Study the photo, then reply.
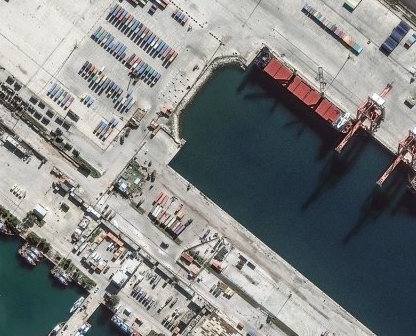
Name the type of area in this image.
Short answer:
port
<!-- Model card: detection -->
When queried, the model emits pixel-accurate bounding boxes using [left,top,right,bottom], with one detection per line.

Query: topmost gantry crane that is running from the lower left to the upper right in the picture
[335,83,392,151]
